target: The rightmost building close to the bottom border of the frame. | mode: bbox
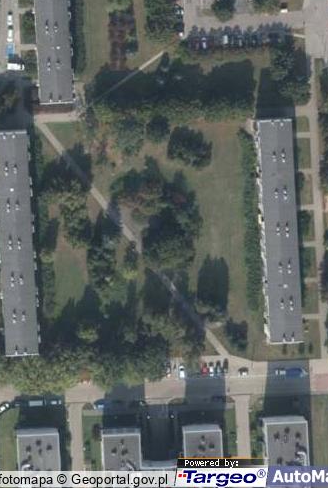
[257,417,307,488]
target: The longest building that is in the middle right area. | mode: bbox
[250,120,302,344]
